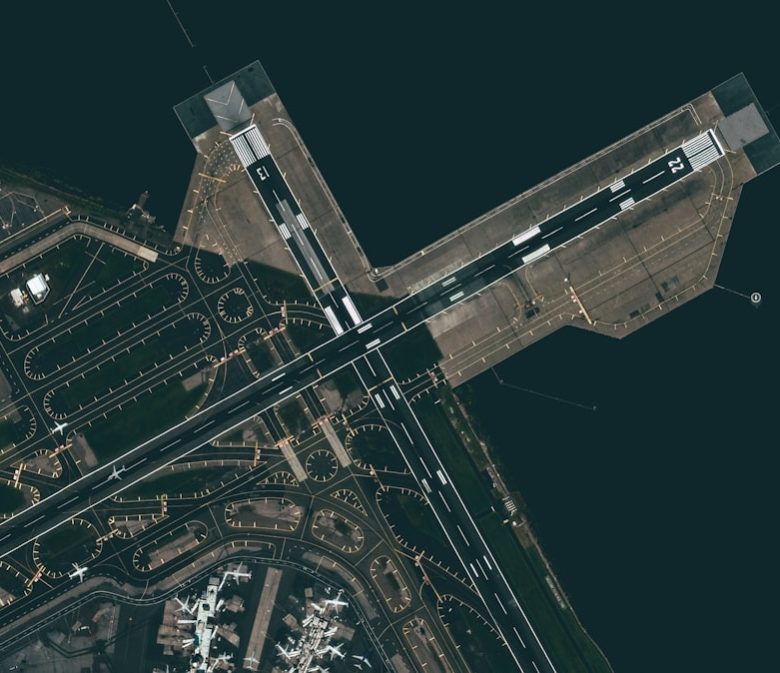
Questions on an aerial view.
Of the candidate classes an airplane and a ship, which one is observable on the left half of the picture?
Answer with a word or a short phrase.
airplane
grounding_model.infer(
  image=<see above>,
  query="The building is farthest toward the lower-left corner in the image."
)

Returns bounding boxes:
[176,573,227,673]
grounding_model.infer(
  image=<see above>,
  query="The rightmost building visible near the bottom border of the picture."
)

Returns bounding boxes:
[287,601,338,673]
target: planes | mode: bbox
[218,650,233,663]
[51,420,68,434]
[68,564,88,583]
[355,649,374,670]
[226,563,251,585]
[243,652,260,671]
[173,595,191,614]
[329,646,346,662]
[108,465,126,480]
[326,592,349,614]
[274,643,289,658]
